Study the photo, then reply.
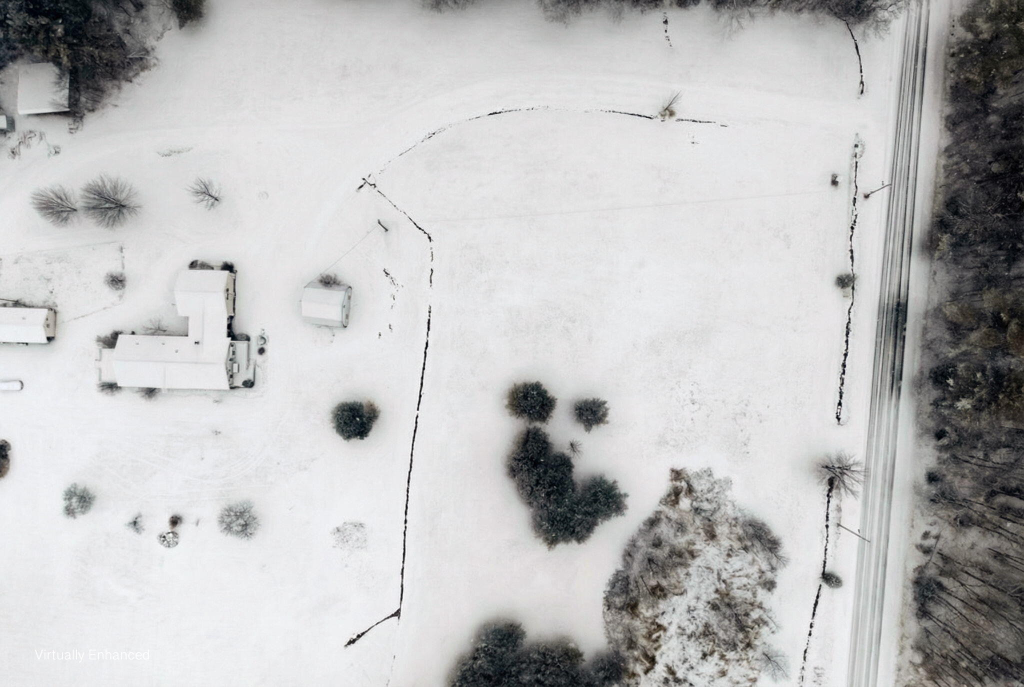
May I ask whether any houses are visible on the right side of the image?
No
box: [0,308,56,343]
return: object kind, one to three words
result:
house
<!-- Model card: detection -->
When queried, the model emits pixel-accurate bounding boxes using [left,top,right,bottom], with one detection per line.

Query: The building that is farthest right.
[300,282,350,328]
